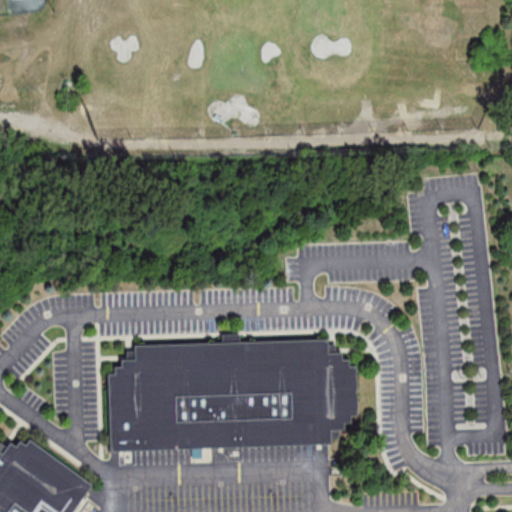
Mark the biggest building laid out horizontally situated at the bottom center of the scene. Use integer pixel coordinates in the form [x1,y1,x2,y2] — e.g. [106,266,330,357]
[108,334,358,453]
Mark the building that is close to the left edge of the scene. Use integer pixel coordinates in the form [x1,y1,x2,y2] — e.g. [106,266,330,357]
[0,442,94,512]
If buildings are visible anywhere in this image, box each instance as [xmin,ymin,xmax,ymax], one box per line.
[0,442,94,512]
[108,334,358,453]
